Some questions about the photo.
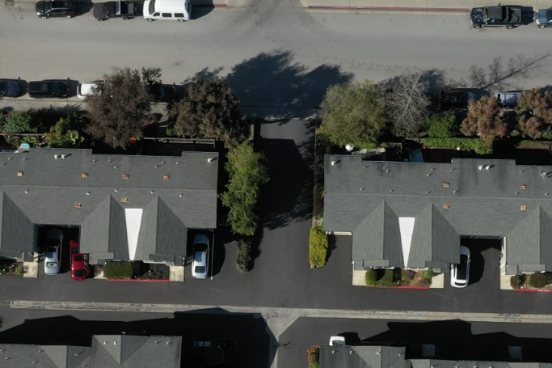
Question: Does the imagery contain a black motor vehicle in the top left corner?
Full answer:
Yes, a black motor vehicle can be seen in the top left corner.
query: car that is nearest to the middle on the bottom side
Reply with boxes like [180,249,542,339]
[189,234,211,279]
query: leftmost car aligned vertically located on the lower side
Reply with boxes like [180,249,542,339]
[42,230,63,277]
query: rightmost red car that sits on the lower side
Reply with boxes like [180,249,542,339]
[69,235,89,279]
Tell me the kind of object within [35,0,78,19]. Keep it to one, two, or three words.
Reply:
car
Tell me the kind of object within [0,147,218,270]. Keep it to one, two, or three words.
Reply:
house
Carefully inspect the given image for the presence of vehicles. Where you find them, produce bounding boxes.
[436,88,487,110]
[142,0,192,22]
[533,5,552,29]
[469,4,523,28]
[35,0,78,19]
[28,77,71,99]
[93,0,139,20]
[77,78,104,99]
[492,89,532,110]
[42,230,63,277]
[450,246,472,289]
[69,235,89,279]
[189,234,211,279]
[327,332,347,344]
[0,77,26,98]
